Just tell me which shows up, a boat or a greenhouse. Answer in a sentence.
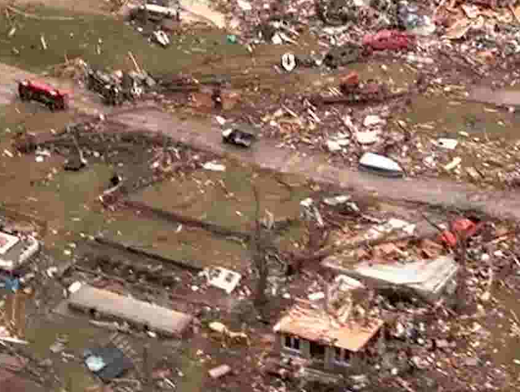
I can see a boat in this picture.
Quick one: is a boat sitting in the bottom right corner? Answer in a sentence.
No, no boat can be made out in the bottom right corner.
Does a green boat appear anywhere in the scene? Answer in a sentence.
No, there isn't any green boat down there.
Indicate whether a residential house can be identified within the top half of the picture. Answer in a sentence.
No, I can find no residential house within the top half of the picture.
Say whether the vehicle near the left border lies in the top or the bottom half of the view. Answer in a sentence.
It is in the top half that the vehicle near the left border appears.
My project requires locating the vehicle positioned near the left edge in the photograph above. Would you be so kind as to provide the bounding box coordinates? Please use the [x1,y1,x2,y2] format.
[16,75,70,110]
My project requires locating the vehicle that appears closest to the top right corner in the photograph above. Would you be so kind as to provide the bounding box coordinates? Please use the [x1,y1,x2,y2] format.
[365,33,410,52]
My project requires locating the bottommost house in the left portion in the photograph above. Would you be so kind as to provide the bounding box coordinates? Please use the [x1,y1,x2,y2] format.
[67,281,195,344]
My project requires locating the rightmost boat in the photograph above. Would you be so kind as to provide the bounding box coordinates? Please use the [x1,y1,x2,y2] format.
[355,150,402,174]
